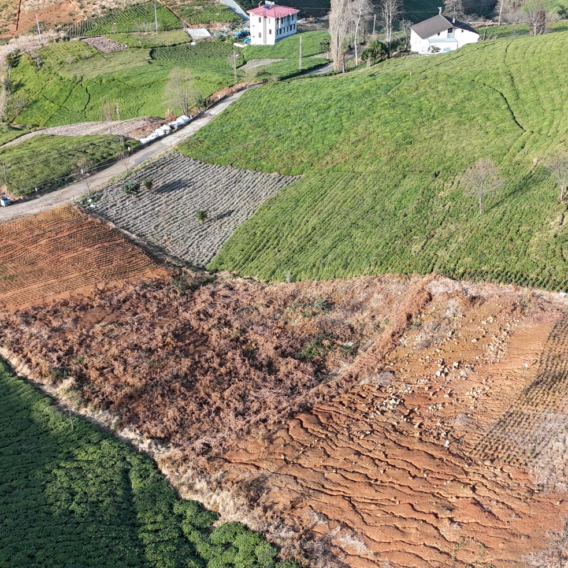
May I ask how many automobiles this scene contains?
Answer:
0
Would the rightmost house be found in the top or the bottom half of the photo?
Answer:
top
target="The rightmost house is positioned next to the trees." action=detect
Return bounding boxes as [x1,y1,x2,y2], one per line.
[409,0,486,53]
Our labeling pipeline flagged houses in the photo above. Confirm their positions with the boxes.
[243,0,301,44]
[409,0,486,53]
